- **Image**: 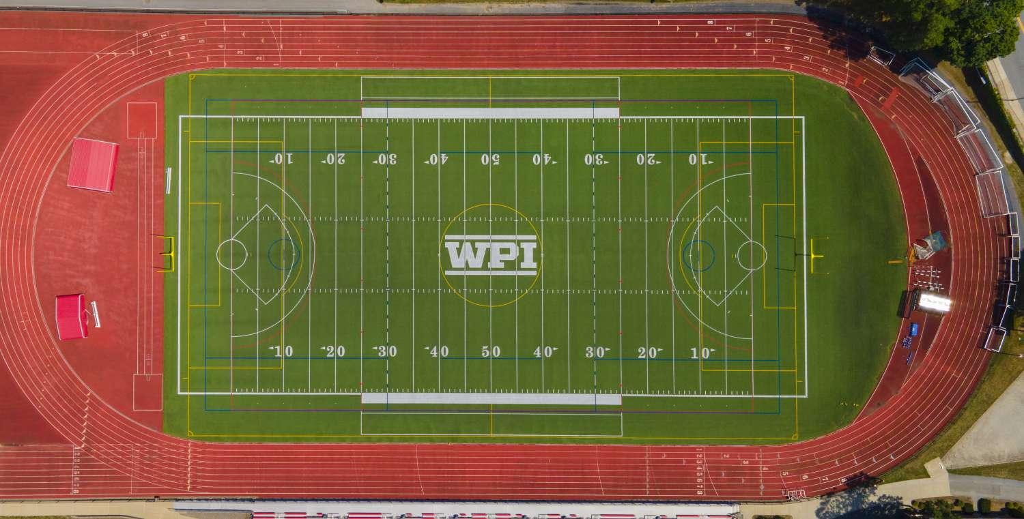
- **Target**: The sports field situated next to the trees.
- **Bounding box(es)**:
[162,68,910,445]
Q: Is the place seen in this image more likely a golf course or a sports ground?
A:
sports ground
